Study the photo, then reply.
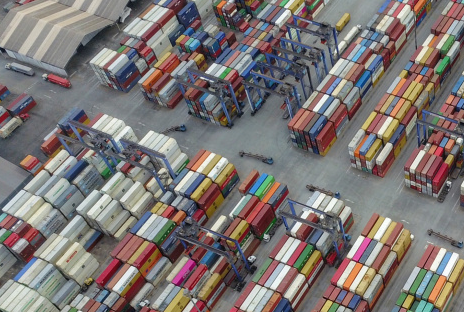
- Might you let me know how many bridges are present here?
zero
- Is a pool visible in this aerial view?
No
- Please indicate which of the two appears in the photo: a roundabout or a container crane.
container crane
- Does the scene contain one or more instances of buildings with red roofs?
No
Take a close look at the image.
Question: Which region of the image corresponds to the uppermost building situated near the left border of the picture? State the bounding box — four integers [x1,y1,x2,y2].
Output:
[0,0,152,76]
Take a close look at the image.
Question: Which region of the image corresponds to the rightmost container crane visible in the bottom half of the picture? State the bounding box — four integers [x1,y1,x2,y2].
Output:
[277,197,349,266]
